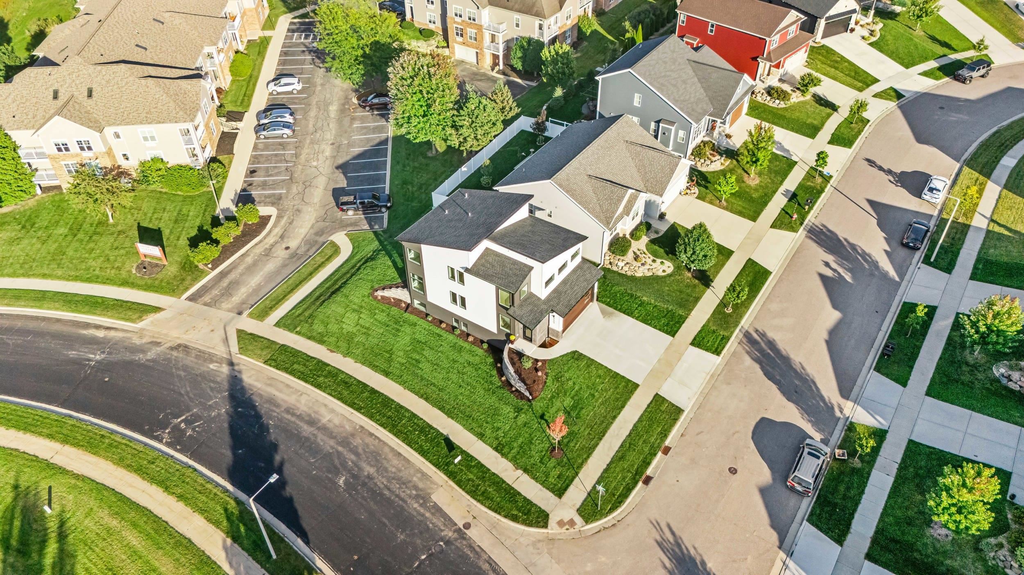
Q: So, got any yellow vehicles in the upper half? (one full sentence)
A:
No, there is no yellow vehicle in the upper half.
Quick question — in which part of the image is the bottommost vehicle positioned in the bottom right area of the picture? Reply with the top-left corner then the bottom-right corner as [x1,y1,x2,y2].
[786,441,832,502]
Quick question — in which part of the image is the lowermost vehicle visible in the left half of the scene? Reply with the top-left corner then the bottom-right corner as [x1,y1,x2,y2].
[336,188,395,216]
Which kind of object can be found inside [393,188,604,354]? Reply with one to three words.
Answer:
house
